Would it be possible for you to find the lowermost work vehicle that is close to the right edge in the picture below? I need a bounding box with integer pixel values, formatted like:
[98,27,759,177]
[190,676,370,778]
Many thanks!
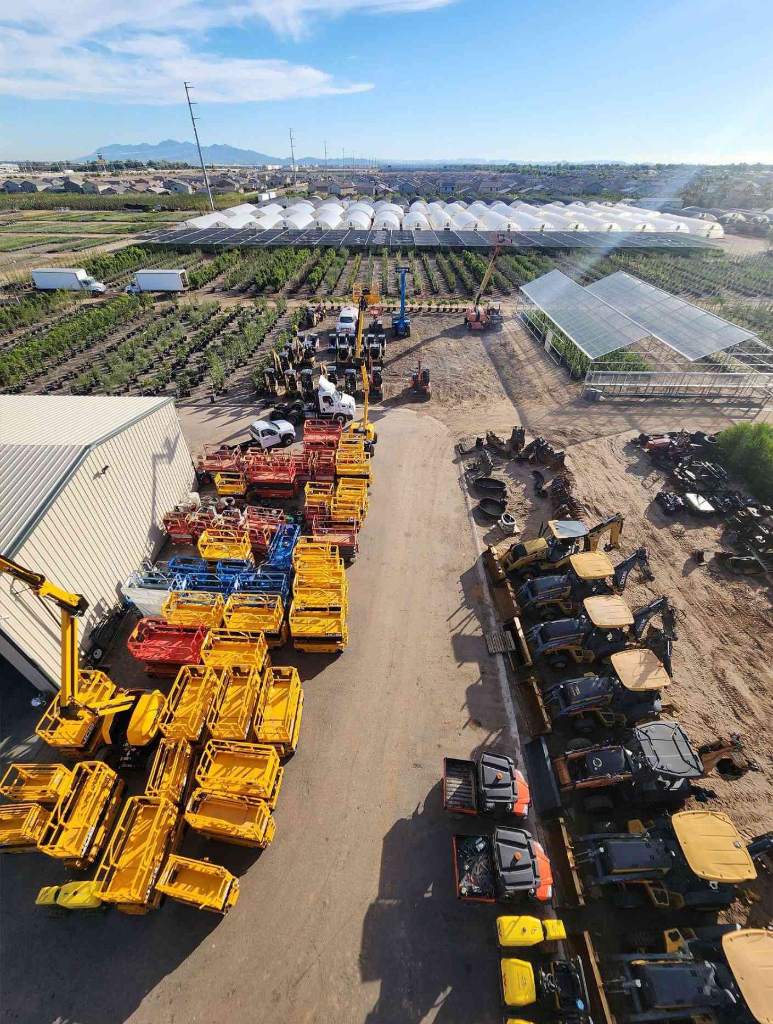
[553,922,773,1024]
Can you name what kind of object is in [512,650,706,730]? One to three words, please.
work vehicle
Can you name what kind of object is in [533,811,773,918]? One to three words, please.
work vehicle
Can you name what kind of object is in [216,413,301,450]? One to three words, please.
truck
